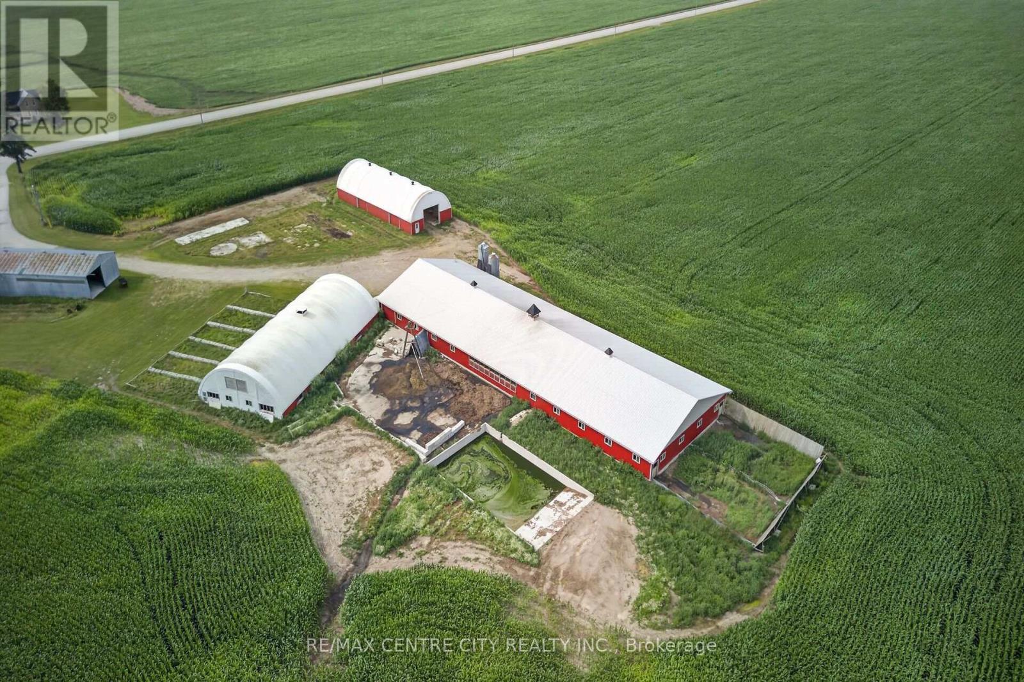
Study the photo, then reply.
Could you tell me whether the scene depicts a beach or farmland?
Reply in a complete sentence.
The picture captures farmland.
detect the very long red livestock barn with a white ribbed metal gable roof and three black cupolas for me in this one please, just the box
[378,257,732,480]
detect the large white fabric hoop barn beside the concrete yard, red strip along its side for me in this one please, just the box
[196,271,381,424]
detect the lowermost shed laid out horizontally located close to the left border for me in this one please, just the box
[0,250,122,298]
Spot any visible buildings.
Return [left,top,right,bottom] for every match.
[336,158,452,234]
[196,271,381,424]
[0,250,122,298]
[0,81,68,129]
[378,257,732,480]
